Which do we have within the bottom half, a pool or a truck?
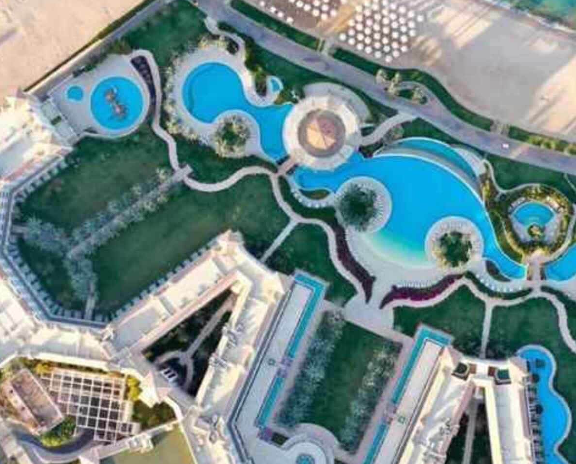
pool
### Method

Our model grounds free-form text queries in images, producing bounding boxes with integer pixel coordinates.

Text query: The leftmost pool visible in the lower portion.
[256,377,285,426]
